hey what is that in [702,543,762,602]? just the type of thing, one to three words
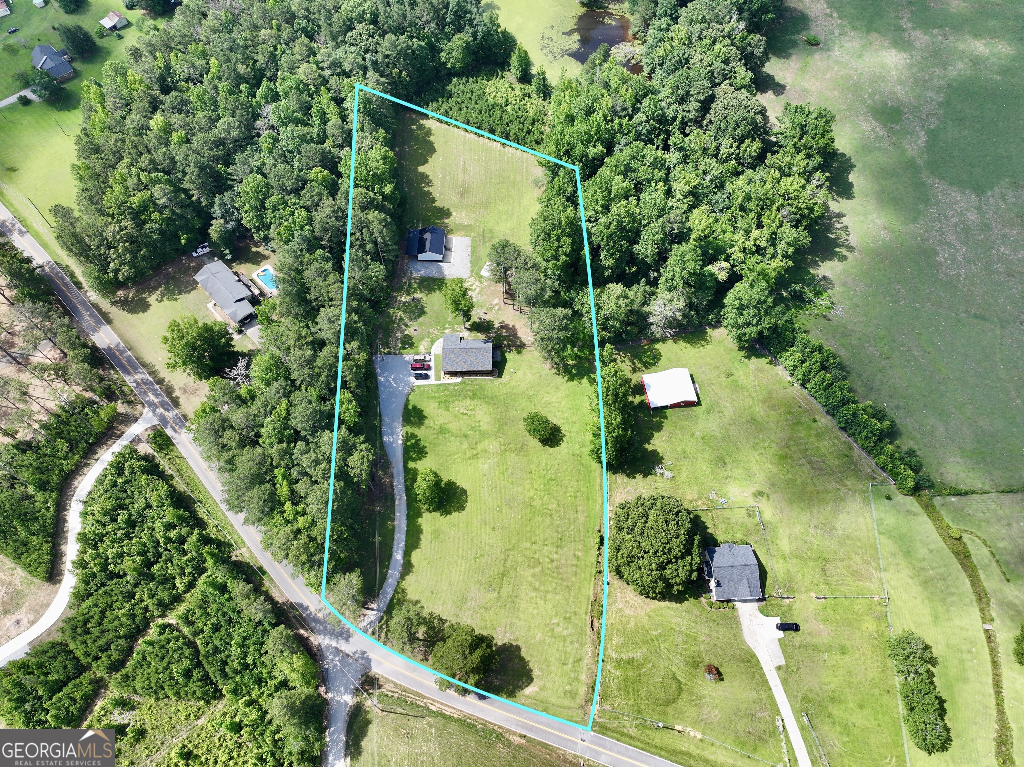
house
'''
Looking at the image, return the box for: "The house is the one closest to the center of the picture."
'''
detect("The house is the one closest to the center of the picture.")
[442,334,492,380]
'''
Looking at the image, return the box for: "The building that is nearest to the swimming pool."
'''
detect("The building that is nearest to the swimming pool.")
[192,261,263,327]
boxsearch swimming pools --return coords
[252,264,282,295]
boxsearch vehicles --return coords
[413,355,430,363]
[771,622,800,633]
[413,372,429,381]
[411,363,430,372]
[245,315,254,322]
[7,28,20,34]
[192,245,212,258]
